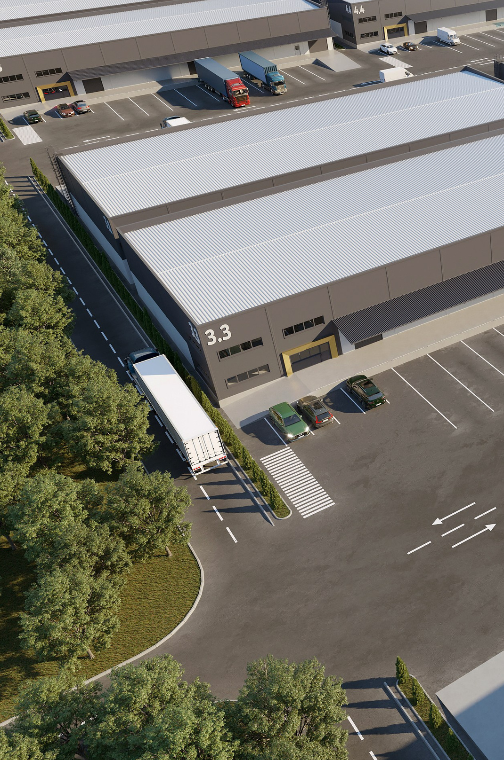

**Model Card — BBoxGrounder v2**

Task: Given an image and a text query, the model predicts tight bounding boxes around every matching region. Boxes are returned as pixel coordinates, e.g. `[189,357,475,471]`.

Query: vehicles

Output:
[379,42,398,54]
[400,40,420,51]
[438,28,460,45]
[345,376,386,409]
[380,71,411,84]
[239,52,292,93]
[128,346,227,474]
[268,401,310,441]
[296,394,336,428]
[24,111,42,124]
[72,101,91,114]
[55,104,74,116]
[150,115,188,132]
[195,56,253,106]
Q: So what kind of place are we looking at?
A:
industrial area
